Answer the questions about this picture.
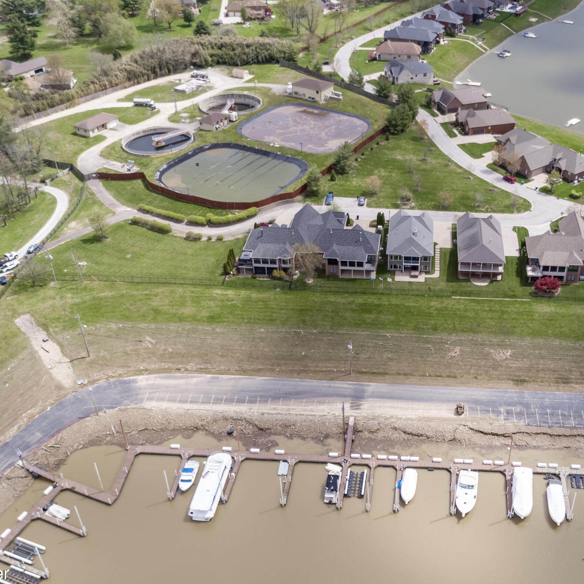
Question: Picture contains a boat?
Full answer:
Yes, the picture does show a boat.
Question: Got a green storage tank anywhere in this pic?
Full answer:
No, I can't see a single green storage tank in this photo.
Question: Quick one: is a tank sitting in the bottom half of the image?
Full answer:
No, there is no tank in the bottom half of the image.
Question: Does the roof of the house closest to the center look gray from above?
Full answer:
Yes, the roof of the house closest to the center appears gray.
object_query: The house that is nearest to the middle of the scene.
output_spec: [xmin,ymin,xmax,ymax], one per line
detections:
[238,206,382,276]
